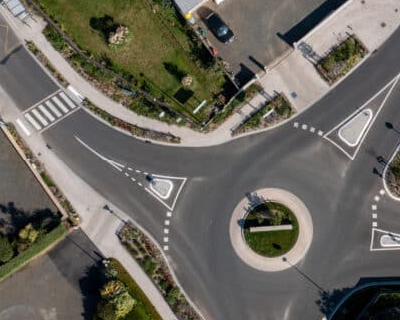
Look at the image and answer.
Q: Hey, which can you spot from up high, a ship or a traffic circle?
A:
traffic circle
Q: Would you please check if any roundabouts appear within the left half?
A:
No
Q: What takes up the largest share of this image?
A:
paved ground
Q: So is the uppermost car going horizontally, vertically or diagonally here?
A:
diagonally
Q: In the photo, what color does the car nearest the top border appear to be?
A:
black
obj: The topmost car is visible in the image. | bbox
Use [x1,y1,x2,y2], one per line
[201,10,235,46]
